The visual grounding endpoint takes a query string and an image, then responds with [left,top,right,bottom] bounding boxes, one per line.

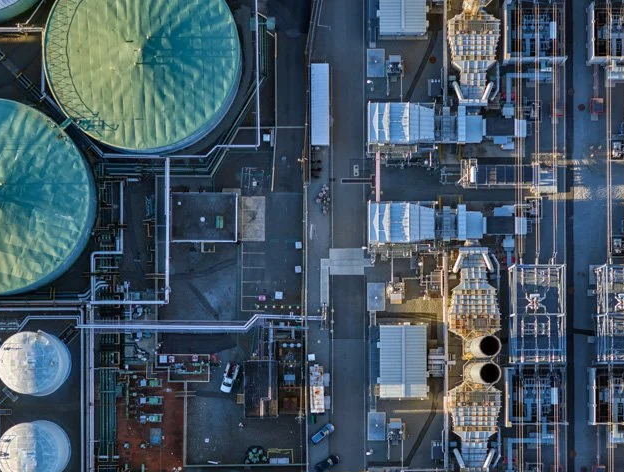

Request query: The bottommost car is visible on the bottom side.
[313,454,340,472]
